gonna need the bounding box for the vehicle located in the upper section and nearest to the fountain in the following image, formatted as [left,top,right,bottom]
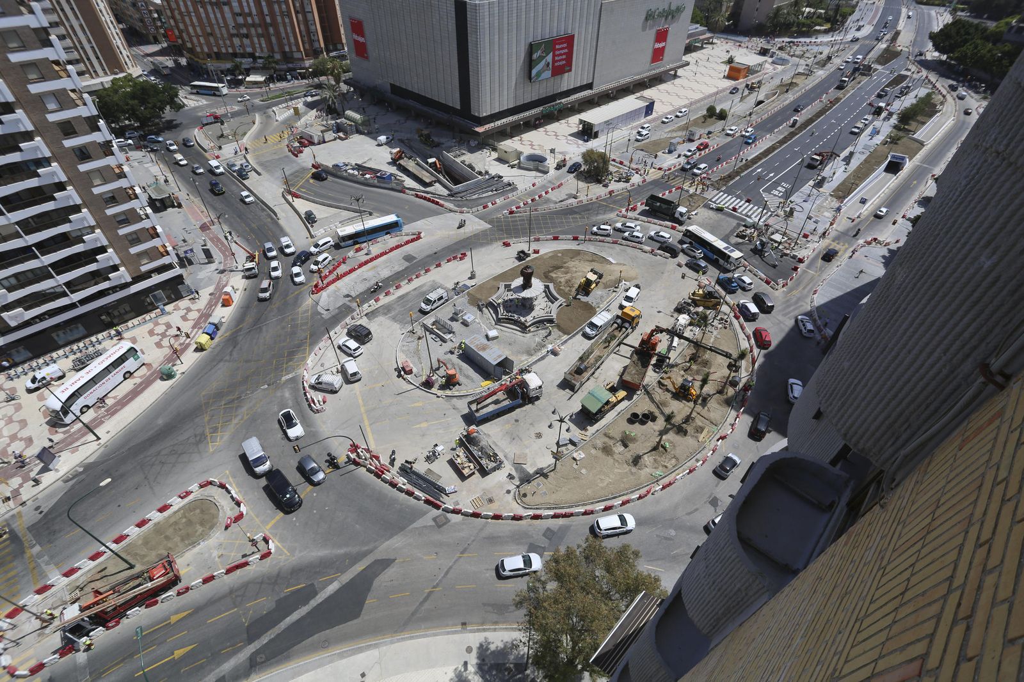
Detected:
[516,248,533,263]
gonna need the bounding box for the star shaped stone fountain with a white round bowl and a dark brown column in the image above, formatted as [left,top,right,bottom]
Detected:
[479,264,559,332]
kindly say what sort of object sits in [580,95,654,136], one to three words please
shed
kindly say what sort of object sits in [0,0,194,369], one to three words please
building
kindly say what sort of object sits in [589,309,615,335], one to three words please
vehicle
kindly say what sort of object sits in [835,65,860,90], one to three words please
truck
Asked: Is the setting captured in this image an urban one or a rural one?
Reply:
urban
